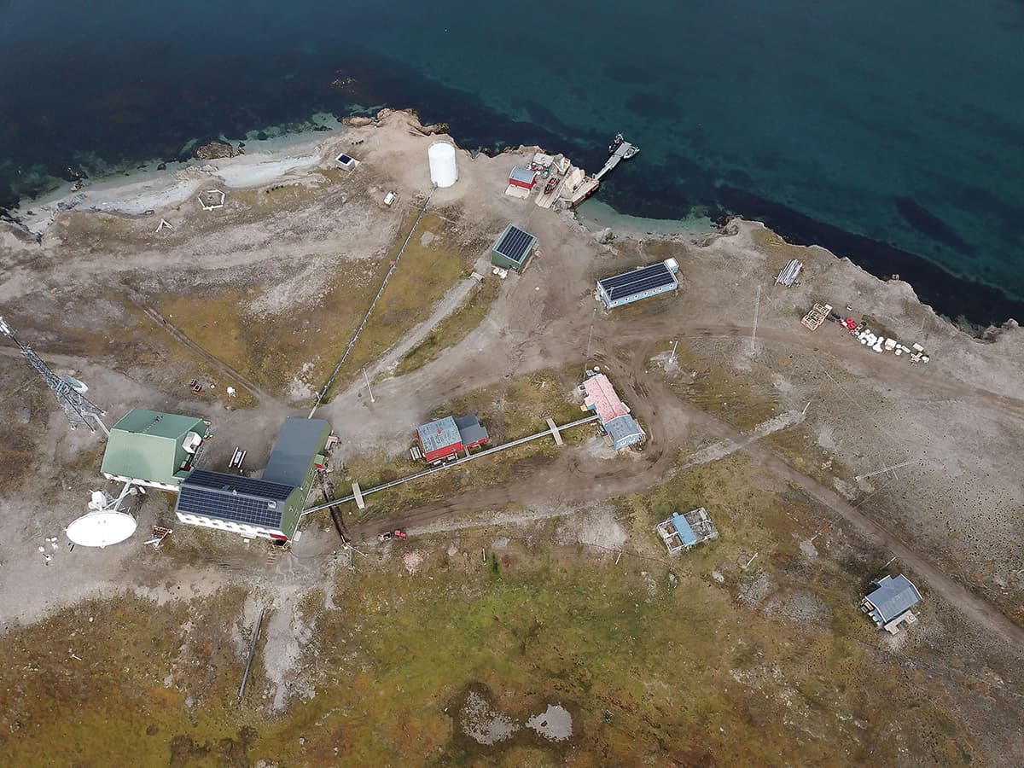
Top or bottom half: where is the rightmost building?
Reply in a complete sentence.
It is in the bottom half that the rightmost building appears.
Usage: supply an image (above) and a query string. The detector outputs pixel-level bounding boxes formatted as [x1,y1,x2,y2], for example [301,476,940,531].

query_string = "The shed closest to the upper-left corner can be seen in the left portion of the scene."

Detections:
[335,153,360,175]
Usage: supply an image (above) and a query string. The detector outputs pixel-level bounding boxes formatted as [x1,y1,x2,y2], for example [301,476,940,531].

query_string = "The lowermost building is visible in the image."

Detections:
[861,572,924,640]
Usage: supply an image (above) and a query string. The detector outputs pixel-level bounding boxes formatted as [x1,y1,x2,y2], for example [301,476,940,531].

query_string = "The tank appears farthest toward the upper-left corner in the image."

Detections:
[428,137,460,189]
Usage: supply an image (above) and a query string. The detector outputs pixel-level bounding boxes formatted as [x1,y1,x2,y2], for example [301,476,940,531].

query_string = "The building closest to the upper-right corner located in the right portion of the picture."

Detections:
[593,257,680,311]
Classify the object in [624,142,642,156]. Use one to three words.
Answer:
boat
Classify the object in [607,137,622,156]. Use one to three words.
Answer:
boat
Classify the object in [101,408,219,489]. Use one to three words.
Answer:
building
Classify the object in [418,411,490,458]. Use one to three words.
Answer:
house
